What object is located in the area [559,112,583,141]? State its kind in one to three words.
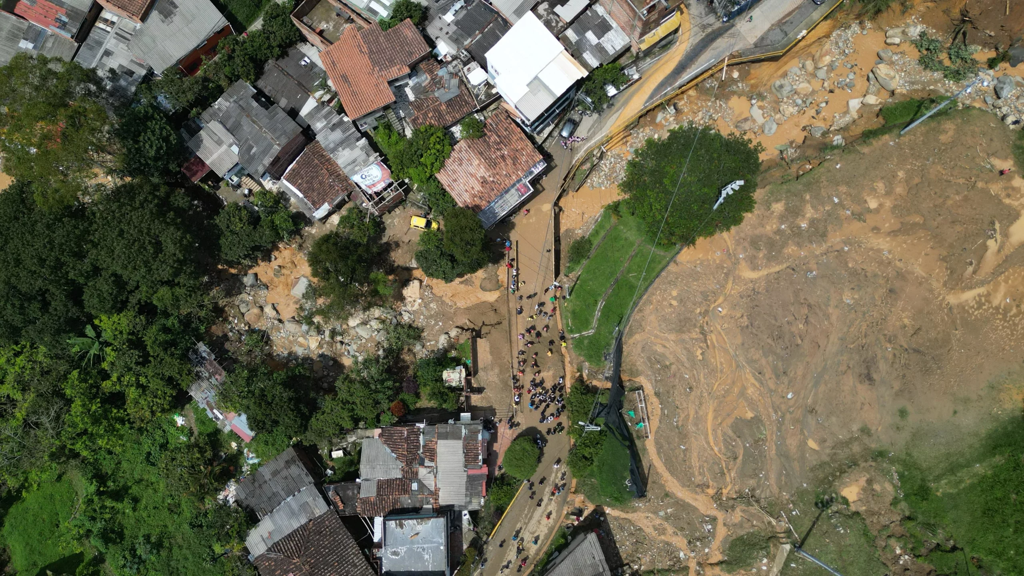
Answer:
car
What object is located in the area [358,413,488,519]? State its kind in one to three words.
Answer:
house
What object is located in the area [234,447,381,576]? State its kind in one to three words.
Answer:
house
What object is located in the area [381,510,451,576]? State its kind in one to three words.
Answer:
building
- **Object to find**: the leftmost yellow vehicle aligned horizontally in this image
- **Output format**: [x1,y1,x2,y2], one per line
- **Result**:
[408,214,439,229]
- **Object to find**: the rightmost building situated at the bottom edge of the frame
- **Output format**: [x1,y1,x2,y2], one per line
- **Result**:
[526,529,612,576]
